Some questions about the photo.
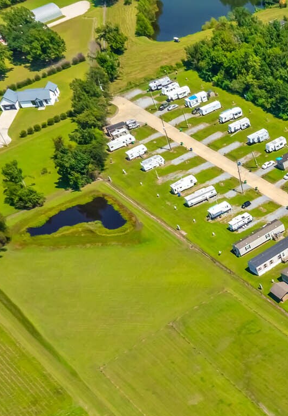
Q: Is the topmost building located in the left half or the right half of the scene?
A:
left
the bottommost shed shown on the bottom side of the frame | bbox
[268,282,288,306]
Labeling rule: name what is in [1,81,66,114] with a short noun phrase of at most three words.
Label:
house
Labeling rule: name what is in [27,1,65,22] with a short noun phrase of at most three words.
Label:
building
